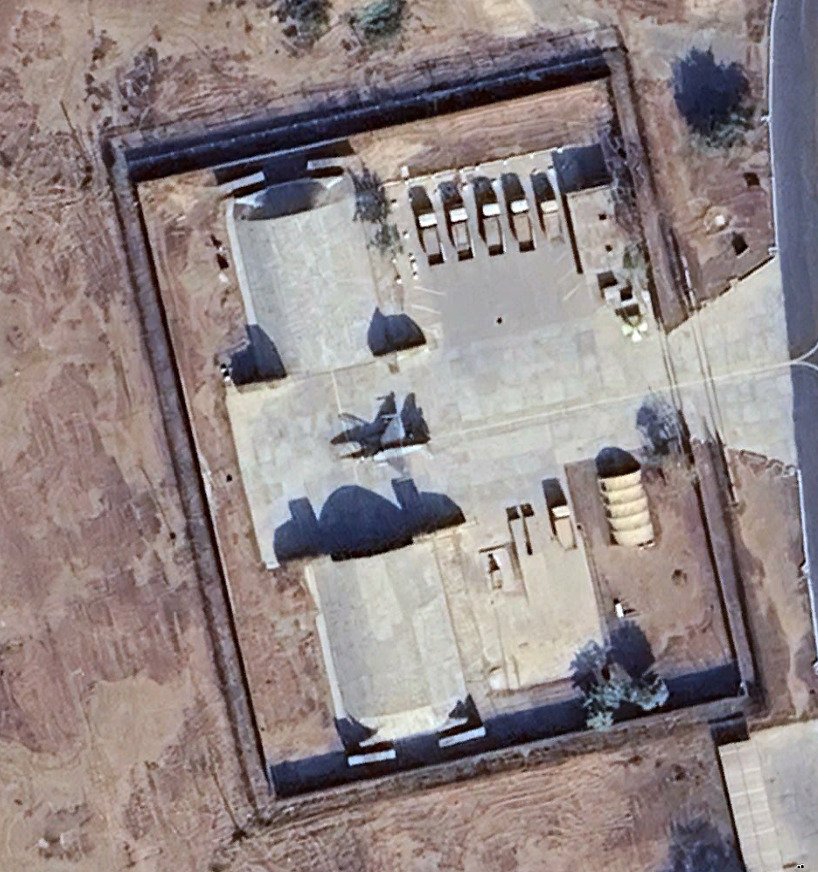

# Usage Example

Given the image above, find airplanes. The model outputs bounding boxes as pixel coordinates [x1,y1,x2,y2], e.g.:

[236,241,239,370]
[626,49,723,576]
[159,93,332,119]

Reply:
[340,415,431,478]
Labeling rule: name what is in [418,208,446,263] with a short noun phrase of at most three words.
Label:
truck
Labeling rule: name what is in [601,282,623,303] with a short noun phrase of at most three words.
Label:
shed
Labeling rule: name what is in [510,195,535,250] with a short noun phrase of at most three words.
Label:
truck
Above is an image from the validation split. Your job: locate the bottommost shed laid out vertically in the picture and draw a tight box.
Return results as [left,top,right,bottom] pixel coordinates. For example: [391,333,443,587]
[714,733,786,872]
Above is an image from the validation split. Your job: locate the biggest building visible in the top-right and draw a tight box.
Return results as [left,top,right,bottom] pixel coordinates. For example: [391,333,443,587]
[563,177,626,270]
